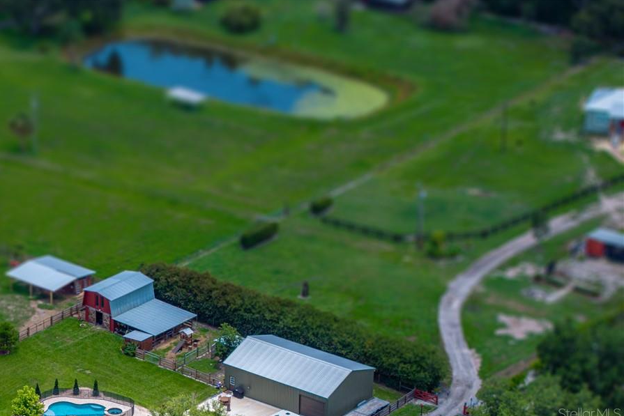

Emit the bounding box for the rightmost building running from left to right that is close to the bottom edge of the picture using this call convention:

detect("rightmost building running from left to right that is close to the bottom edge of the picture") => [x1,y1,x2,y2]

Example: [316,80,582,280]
[223,334,376,416]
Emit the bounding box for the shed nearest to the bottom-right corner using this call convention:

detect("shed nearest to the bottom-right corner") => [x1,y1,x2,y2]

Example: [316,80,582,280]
[587,228,624,259]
